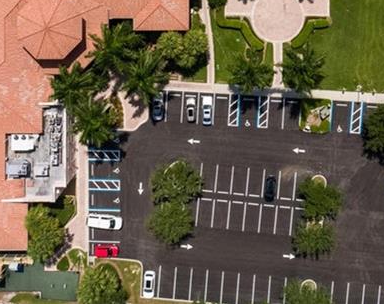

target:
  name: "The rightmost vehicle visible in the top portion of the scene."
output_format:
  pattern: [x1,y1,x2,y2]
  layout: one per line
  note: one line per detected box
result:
[200,96,213,125]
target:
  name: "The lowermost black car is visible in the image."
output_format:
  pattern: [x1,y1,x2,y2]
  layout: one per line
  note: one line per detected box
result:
[264,173,277,202]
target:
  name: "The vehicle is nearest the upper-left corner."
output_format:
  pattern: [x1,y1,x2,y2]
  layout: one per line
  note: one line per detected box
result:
[151,94,164,123]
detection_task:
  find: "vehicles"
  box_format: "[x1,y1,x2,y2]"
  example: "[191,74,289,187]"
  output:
[87,214,122,230]
[264,173,277,202]
[151,94,164,123]
[94,244,120,259]
[143,269,156,298]
[200,96,213,125]
[185,96,197,123]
